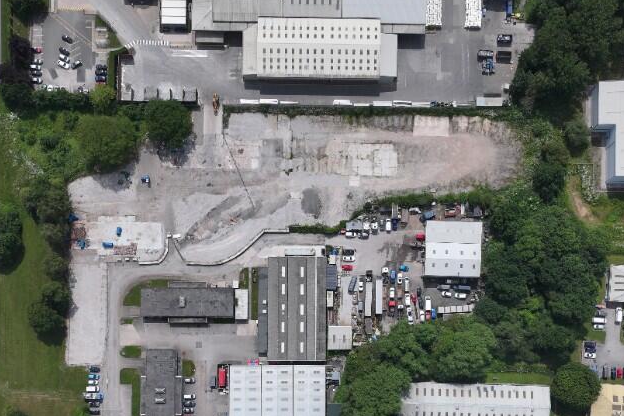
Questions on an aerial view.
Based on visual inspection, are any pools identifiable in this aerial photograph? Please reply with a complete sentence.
No, this view has no pool in it.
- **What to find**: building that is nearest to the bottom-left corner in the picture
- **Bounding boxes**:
[141,349,184,416]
